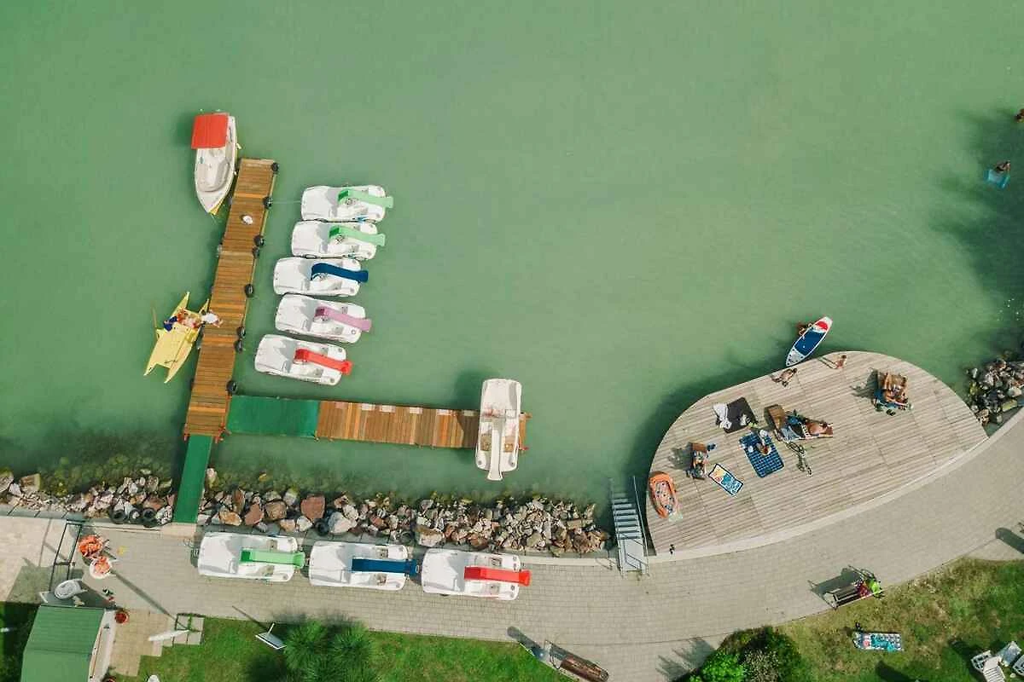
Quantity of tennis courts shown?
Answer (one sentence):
There are no tennis courts in the image.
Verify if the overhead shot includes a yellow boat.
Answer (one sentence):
Yes, this view includes a yellow boat.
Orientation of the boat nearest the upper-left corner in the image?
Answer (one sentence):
In this picture, the boat nearest the upper-left corner is oriented from top to bottom.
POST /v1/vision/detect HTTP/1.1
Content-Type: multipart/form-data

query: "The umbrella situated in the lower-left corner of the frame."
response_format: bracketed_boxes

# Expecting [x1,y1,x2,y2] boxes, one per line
[150,629,192,641]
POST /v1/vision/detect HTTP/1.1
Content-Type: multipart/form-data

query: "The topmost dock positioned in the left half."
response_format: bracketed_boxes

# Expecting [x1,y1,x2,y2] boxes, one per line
[180,158,528,450]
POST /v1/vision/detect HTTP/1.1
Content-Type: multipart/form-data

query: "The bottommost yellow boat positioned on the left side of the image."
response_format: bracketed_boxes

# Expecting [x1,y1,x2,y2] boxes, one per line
[143,293,210,383]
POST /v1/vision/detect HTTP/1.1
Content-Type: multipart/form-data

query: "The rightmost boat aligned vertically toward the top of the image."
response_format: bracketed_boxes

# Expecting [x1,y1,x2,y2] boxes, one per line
[193,111,245,215]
